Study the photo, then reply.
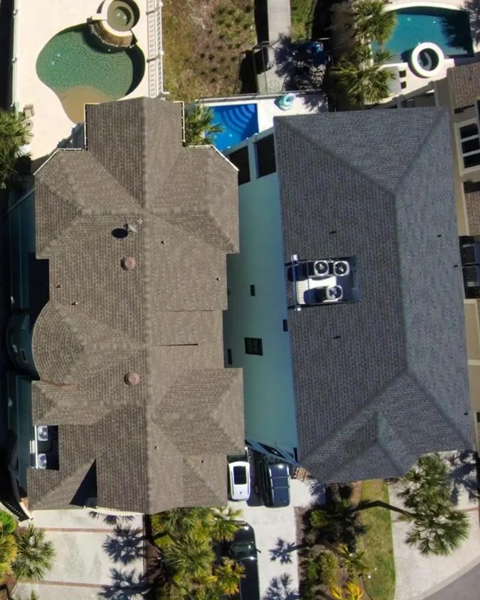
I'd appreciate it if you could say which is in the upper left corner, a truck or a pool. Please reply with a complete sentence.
You can see a pool in the upper left corner.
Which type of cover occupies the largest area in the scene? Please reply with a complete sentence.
For the most part, this view shows buildings.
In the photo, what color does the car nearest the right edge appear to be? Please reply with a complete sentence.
In this view, the car nearest the right edge is black.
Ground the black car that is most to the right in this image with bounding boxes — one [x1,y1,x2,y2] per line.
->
[255,445,294,506]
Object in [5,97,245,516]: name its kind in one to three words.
house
